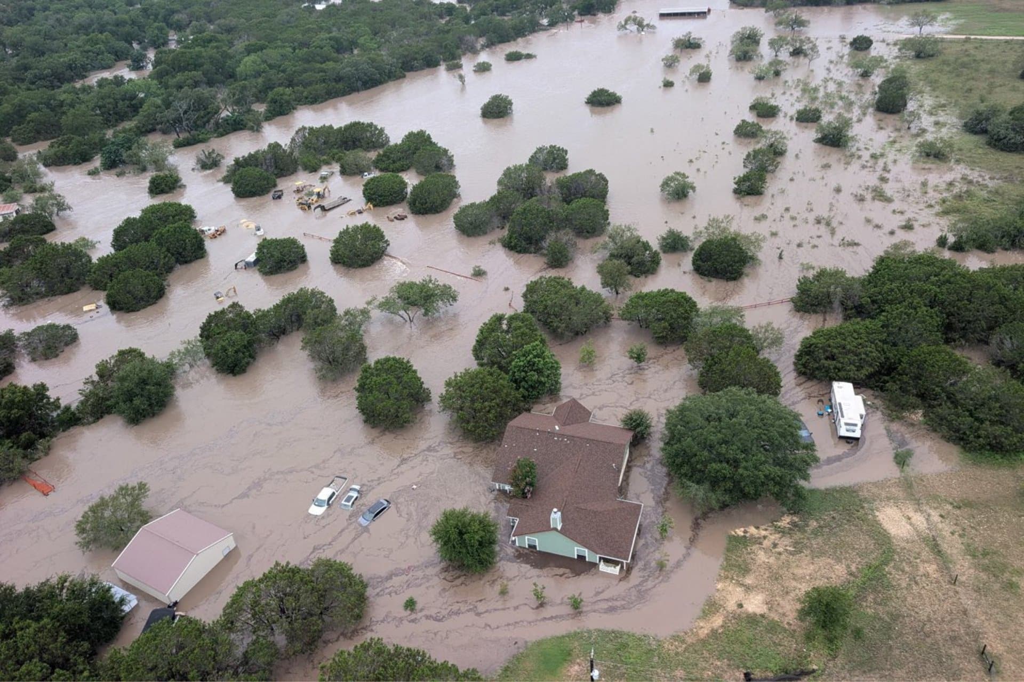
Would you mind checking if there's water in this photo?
Yes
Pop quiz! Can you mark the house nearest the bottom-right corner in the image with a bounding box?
[491,398,643,575]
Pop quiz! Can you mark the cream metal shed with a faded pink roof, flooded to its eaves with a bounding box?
[111,508,234,602]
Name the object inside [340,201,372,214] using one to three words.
vehicle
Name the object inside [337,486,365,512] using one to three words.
car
